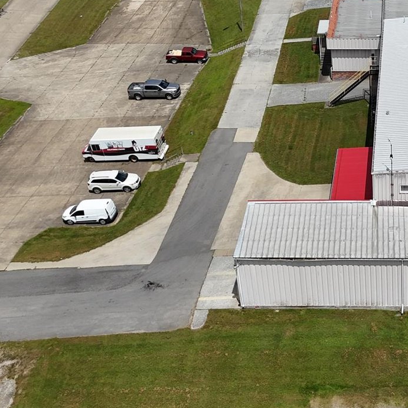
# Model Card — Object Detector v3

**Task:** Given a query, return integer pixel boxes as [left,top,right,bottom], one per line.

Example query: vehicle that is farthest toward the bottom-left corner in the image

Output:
[58,195,118,222]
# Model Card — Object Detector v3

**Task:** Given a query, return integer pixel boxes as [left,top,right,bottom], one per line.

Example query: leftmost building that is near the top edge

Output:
[315,0,382,78]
